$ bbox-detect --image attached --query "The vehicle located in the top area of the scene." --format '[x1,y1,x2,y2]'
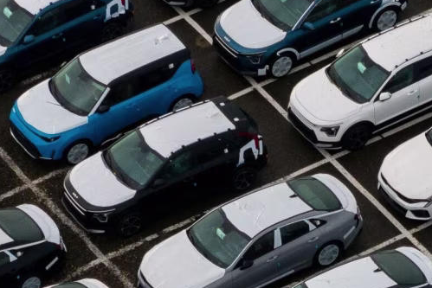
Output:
[9,21,204,166]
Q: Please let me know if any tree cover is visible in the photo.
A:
No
